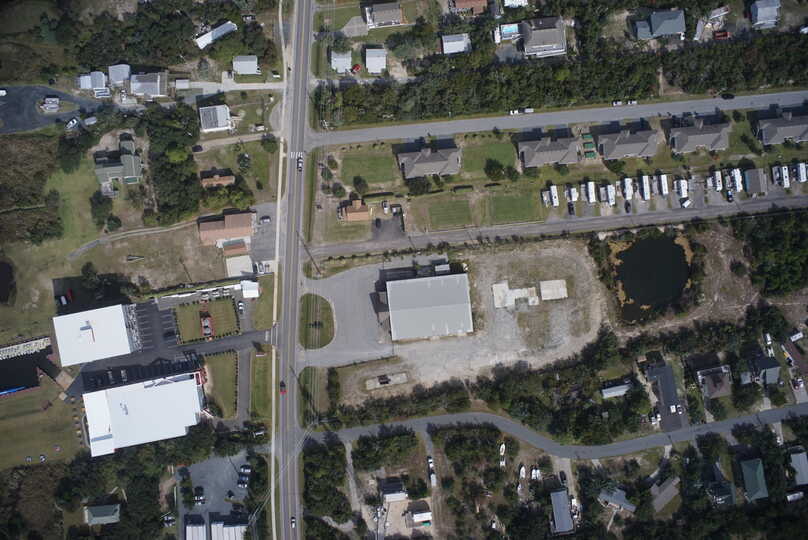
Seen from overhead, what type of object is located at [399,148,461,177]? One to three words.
house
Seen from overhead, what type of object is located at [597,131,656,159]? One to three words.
house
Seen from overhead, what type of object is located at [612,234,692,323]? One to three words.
pond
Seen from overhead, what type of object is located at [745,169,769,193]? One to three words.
building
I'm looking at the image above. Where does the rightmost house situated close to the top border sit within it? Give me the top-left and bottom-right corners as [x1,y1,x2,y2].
[750,0,780,30]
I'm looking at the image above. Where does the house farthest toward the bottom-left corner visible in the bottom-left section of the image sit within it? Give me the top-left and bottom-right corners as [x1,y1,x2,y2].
[84,504,122,524]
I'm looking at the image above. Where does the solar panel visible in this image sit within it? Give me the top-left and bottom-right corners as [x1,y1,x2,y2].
[202,107,219,129]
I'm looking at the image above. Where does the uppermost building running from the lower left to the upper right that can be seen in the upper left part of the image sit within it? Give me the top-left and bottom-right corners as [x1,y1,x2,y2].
[196,21,236,51]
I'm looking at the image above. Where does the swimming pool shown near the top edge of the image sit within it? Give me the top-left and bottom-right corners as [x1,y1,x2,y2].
[501,23,518,39]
